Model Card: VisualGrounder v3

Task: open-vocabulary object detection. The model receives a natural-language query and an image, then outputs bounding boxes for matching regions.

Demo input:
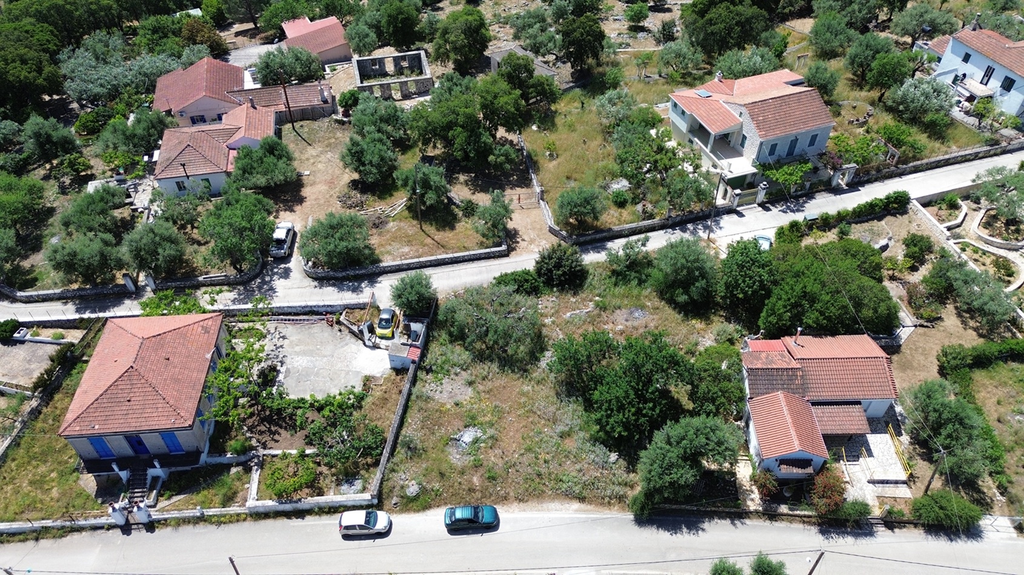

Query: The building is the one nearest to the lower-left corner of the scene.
[57,311,227,519]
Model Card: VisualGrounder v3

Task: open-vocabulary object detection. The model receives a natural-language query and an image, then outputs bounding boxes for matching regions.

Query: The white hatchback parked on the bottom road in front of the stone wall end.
[336,509,391,539]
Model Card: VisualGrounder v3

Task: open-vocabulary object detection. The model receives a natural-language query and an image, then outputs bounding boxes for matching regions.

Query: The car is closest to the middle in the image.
[377,308,402,336]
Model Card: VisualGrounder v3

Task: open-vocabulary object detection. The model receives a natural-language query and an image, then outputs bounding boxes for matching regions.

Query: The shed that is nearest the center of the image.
[388,341,424,374]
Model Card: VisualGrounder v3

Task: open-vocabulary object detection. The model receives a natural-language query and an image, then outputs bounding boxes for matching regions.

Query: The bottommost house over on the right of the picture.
[734,327,912,489]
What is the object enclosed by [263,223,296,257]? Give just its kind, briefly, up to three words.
truck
